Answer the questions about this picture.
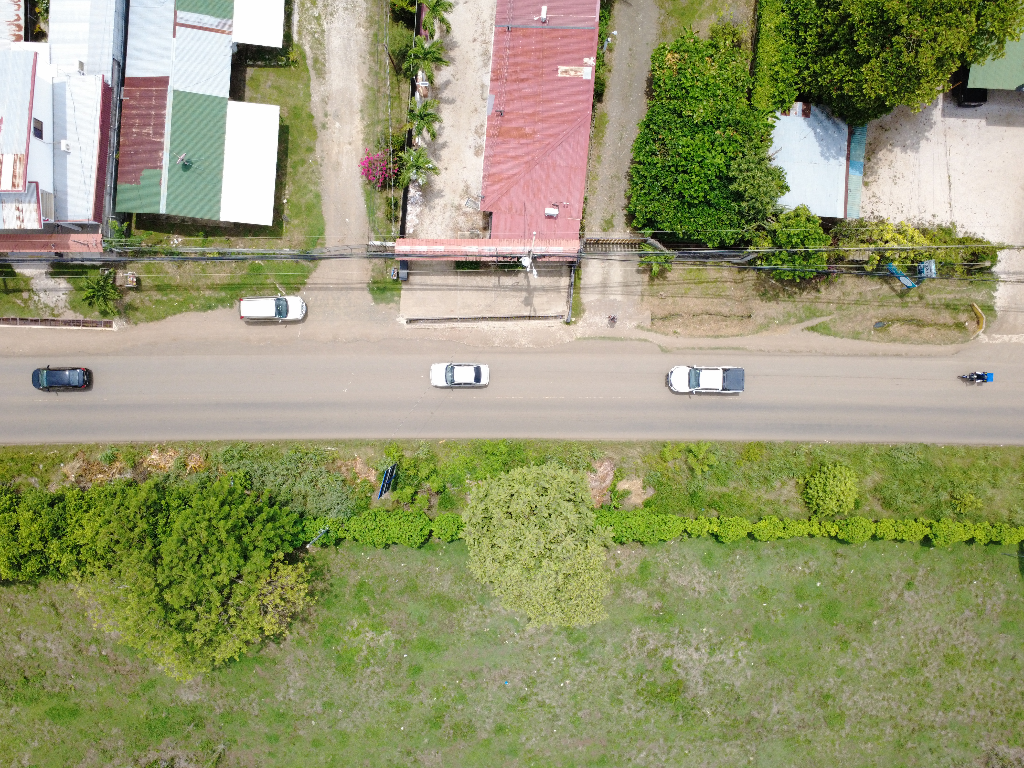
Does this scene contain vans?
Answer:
Yes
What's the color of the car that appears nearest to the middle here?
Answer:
white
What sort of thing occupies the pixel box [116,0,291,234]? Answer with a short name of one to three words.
building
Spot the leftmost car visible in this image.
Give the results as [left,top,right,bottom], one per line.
[30,364,87,393]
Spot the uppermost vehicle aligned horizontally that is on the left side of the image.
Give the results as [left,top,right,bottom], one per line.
[242,293,309,324]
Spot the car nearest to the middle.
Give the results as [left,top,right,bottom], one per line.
[429,361,490,389]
